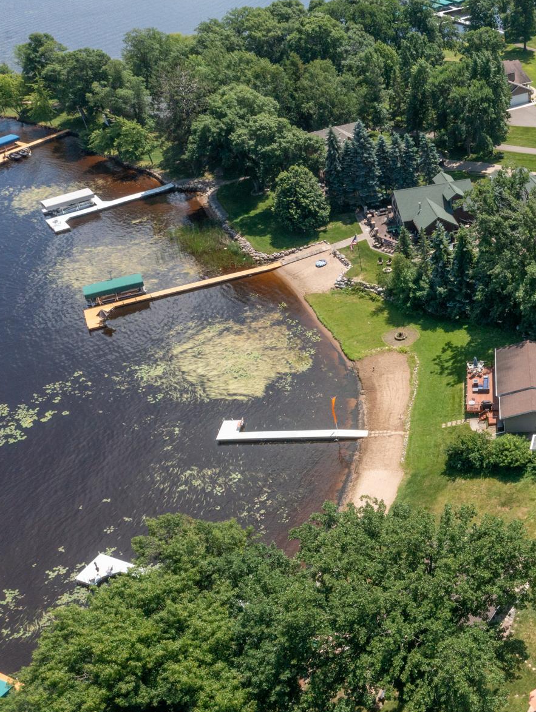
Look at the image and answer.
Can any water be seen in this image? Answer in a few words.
Yes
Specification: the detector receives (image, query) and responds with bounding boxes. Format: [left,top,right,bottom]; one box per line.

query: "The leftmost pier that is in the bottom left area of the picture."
[74,552,150,590]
